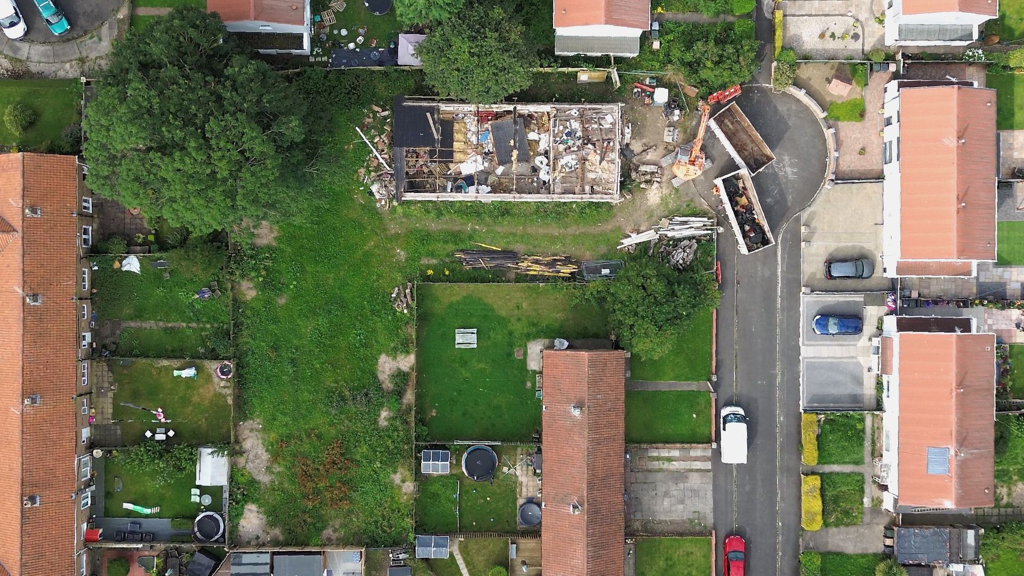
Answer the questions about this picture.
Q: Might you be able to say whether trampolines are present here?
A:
Yes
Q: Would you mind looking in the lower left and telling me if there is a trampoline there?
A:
Yes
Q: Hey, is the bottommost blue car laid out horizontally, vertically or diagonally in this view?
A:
horizontally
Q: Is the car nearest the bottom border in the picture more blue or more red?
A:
red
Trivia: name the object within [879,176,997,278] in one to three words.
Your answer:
house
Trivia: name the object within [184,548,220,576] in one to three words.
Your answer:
shed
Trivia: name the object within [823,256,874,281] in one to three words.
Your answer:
car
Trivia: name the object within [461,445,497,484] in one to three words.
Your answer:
trampoline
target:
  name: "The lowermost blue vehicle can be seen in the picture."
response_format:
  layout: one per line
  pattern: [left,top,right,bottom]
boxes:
[811,311,863,337]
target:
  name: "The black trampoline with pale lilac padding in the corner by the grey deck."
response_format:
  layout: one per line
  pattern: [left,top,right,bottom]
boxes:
[190,513,224,546]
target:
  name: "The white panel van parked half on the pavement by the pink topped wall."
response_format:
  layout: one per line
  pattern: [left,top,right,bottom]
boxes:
[720,405,750,465]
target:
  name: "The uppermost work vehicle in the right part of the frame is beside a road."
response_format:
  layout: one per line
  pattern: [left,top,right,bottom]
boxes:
[656,98,714,186]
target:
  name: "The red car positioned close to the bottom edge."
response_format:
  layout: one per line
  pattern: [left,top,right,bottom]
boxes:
[722,533,748,576]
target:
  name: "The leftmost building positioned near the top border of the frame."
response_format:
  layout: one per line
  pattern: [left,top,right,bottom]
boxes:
[206,0,316,57]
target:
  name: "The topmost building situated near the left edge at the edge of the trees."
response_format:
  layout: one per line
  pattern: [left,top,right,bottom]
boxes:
[0,149,93,256]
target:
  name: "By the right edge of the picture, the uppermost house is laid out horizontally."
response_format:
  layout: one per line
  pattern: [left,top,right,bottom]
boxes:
[886,0,999,47]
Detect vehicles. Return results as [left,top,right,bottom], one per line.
[0,0,28,40]
[811,311,863,337]
[722,533,748,576]
[32,0,70,33]
[720,405,750,465]
[823,256,874,281]
[656,98,714,186]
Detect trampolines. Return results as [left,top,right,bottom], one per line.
[461,445,497,484]
[190,513,224,546]
[217,362,231,378]
[365,0,393,17]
